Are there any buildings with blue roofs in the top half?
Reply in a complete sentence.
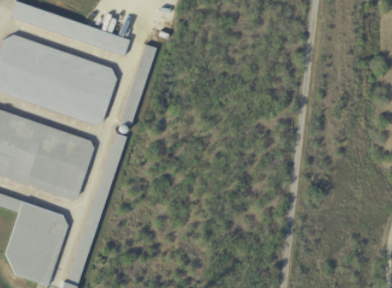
No, there's no building with a blue roof to be seen in the top half.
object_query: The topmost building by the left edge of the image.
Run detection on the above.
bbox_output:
[11,0,130,54]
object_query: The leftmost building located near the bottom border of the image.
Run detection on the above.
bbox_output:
[6,202,70,286]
